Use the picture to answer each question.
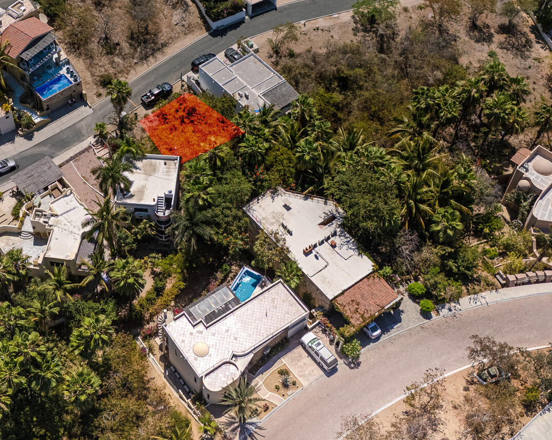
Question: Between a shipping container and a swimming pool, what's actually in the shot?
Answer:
swimming pool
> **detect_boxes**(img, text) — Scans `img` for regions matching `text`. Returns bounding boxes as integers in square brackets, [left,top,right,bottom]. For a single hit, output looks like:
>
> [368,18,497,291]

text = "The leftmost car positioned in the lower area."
[299,330,340,373]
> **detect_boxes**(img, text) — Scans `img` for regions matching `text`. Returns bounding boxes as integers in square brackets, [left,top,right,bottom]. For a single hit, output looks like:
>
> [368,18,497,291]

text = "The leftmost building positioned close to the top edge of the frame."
[0,0,92,140]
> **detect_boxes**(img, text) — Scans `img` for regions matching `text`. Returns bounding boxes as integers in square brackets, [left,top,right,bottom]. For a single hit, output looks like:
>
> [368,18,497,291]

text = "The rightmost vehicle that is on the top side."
[222,46,245,63]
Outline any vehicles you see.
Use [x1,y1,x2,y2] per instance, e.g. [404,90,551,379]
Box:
[140,84,175,103]
[299,330,340,373]
[0,157,19,174]
[362,316,387,345]
[222,46,245,63]
[189,53,216,70]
